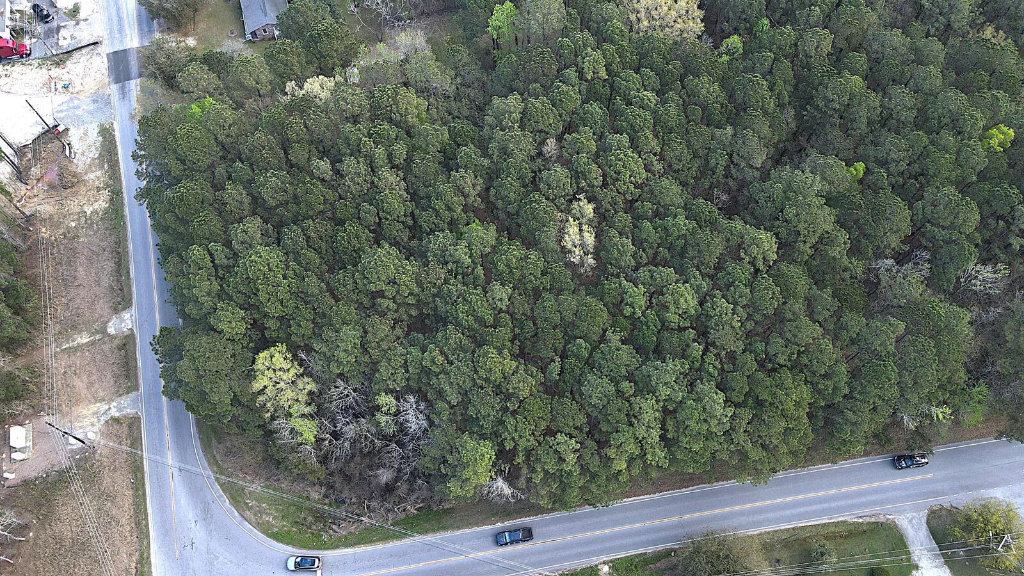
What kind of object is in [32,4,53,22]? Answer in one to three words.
car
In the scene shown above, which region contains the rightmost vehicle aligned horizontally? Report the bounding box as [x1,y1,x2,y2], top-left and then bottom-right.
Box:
[893,451,930,470]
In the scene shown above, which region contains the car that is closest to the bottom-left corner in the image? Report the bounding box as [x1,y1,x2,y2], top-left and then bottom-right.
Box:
[290,554,324,572]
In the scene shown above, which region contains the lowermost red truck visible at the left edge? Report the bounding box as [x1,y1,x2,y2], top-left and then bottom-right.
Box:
[0,37,31,61]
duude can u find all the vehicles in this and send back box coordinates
[893,451,930,470]
[290,554,324,572]
[496,526,533,547]
[0,37,31,61]
[32,4,53,22]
